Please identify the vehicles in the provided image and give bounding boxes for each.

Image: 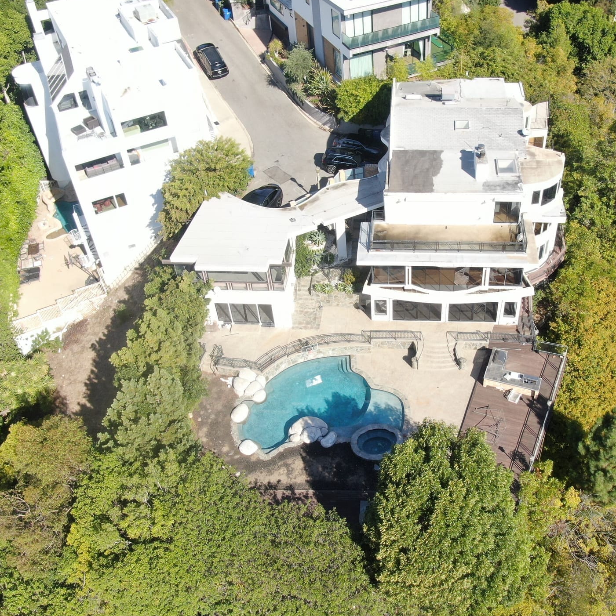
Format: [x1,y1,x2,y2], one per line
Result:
[319,144,380,175]
[237,184,294,206]
[329,128,384,156]
[195,46,231,87]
